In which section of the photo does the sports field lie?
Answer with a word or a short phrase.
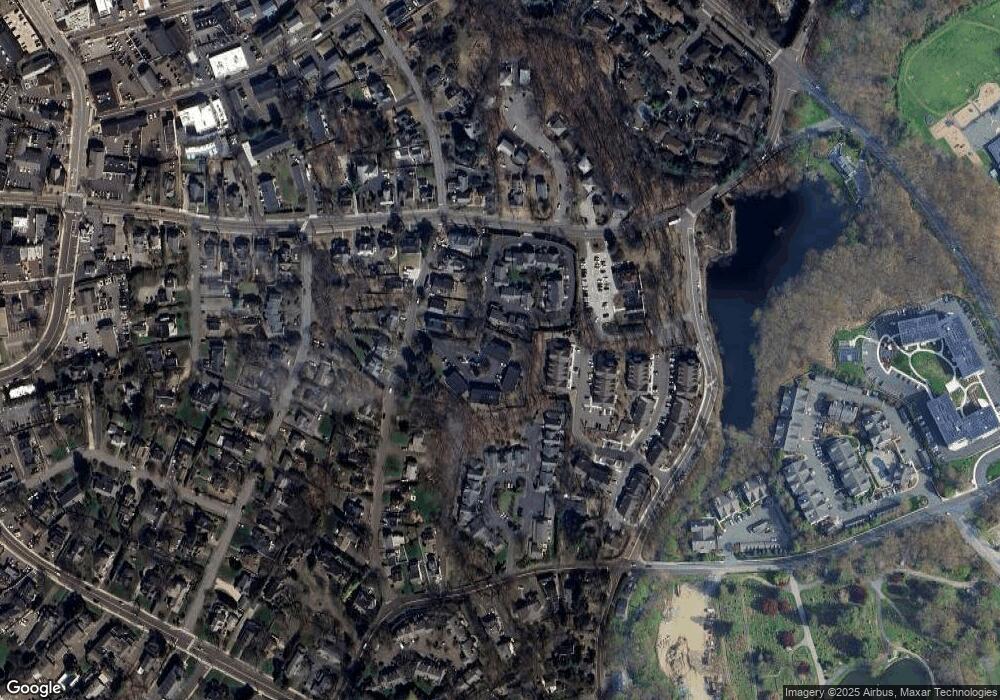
top right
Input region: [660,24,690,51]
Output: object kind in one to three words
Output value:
house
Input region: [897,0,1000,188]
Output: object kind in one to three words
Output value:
sports field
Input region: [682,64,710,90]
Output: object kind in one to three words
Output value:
house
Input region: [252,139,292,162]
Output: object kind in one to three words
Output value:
building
